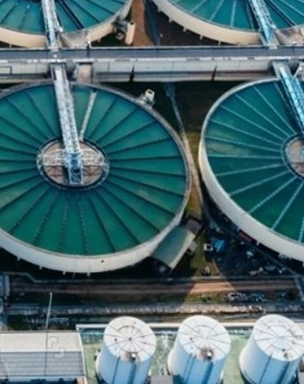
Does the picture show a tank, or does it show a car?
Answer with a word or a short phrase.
tank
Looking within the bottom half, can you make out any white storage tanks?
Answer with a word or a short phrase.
Yes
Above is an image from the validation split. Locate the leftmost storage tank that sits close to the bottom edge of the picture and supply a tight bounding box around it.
[99,322,153,384]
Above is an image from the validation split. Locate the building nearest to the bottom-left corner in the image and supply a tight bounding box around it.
[0,330,88,384]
